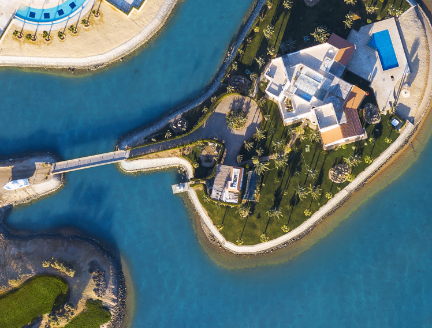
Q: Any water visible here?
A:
Yes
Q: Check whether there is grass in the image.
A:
Yes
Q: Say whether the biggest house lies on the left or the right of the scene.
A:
right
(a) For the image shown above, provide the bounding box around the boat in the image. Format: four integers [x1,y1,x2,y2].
[3,178,32,190]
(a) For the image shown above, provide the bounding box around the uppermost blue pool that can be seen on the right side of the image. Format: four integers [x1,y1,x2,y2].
[364,27,400,72]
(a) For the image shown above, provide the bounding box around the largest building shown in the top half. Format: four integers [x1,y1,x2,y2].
[263,34,367,149]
